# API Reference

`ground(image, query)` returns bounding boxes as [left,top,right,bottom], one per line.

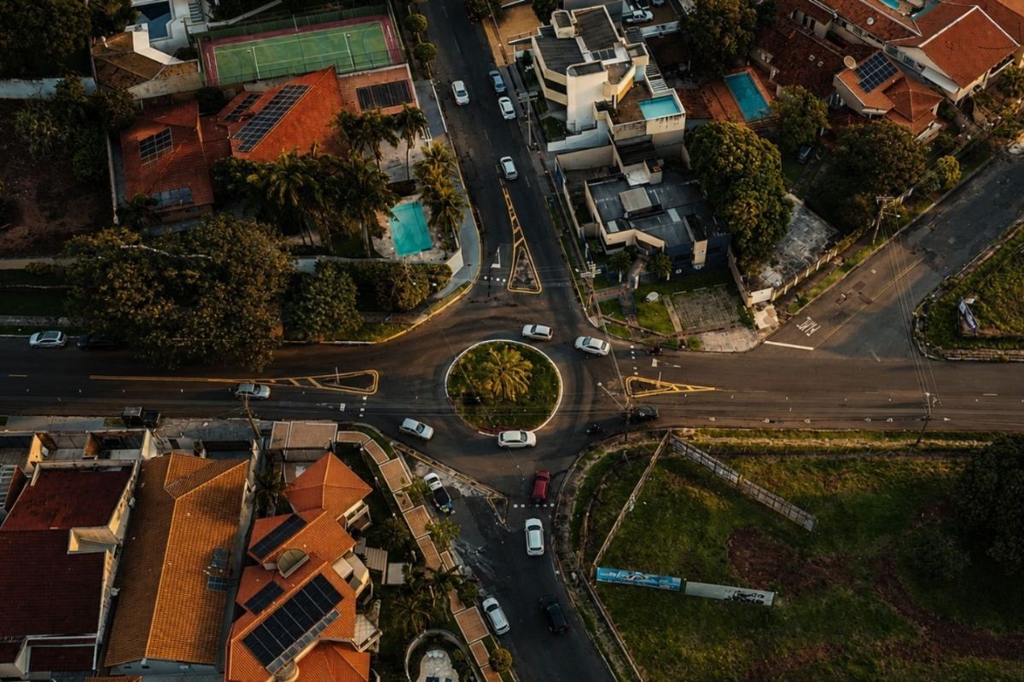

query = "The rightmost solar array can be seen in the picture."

[855,52,898,92]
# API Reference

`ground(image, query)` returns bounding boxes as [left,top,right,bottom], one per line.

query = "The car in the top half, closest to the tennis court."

[451,79,470,103]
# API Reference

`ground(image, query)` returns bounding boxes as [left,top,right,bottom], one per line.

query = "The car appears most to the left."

[29,329,66,347]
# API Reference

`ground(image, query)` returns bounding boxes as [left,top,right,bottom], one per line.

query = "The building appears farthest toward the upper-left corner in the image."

[92,30,206,108]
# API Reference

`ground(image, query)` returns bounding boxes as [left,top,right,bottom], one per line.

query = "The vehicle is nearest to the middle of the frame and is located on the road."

[518,320,557,340]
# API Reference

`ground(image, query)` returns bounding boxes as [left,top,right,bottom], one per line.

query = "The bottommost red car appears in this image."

[532,470,551,503]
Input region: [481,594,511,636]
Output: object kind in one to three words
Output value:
car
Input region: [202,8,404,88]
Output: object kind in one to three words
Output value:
tennis court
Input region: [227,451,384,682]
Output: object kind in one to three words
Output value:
house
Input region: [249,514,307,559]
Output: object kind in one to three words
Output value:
solar array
